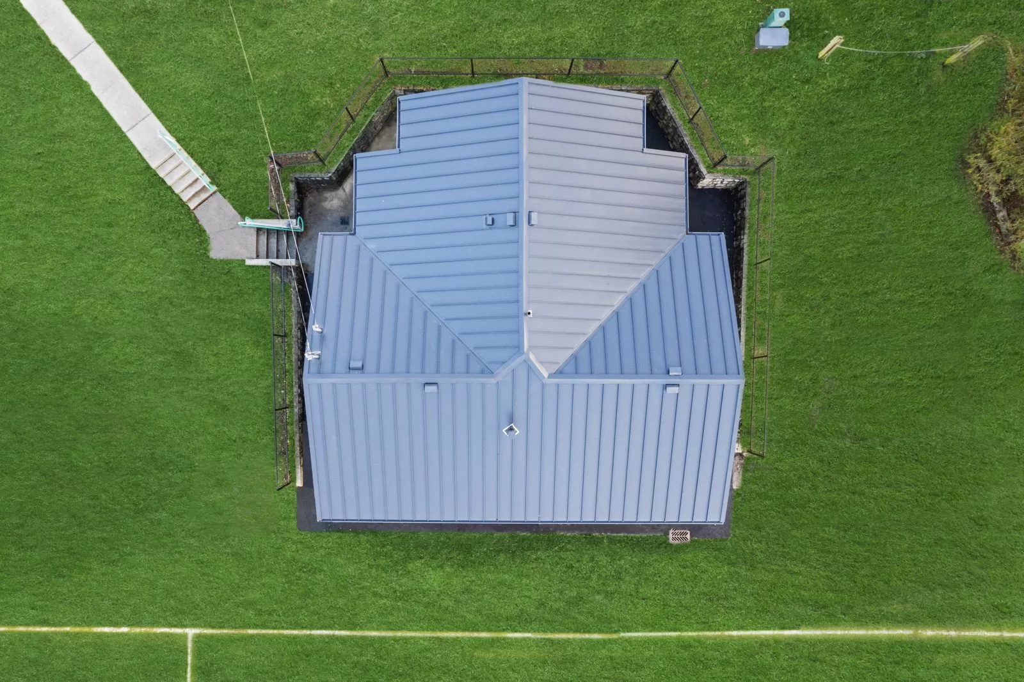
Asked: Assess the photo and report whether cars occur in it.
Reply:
No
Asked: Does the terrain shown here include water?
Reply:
No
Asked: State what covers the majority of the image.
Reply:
grass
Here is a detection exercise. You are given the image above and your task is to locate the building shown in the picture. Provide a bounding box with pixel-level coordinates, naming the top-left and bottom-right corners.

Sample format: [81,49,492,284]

[303,77,745,526]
